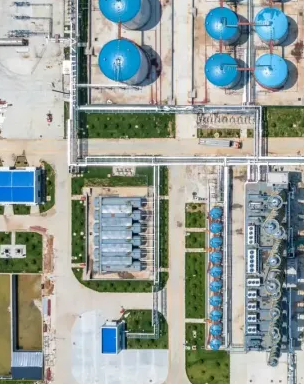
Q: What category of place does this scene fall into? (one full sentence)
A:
It's an industrial area.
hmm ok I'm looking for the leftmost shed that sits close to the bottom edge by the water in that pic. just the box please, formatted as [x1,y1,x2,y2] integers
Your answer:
[11,350,47,380]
